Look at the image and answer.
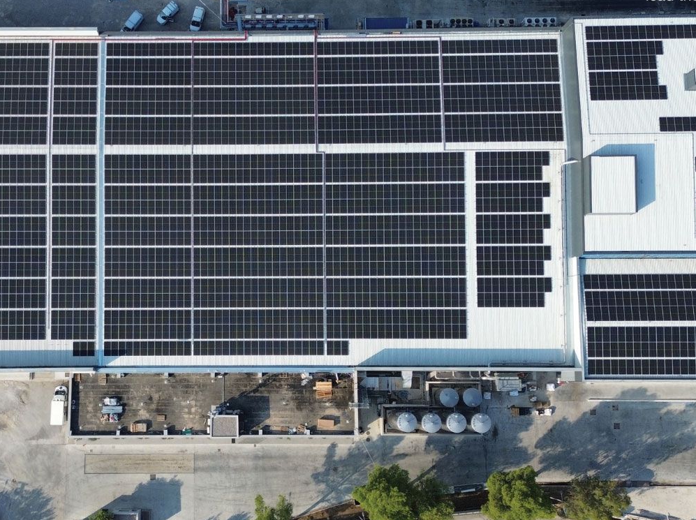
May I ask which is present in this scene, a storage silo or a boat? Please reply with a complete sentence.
There is a storage silo in the scene.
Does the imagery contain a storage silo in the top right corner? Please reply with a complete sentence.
No, there's no storage silo to be seen in the top right corner.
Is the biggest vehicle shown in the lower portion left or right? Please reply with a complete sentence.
The biggest vehicle shown in the lower portion appears in the left half of the scene.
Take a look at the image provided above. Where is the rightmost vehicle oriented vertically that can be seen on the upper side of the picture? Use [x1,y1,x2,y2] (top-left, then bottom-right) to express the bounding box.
[190,4,205,32]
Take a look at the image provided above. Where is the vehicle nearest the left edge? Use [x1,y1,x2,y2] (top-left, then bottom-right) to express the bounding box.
[49,385,69,426]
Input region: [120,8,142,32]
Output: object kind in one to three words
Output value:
vehicle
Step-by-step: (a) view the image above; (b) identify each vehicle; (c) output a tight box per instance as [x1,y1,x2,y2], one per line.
[49,385,69,426]
[190,4,205,32]
[157,0,178,27]
[120,8,142,32]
